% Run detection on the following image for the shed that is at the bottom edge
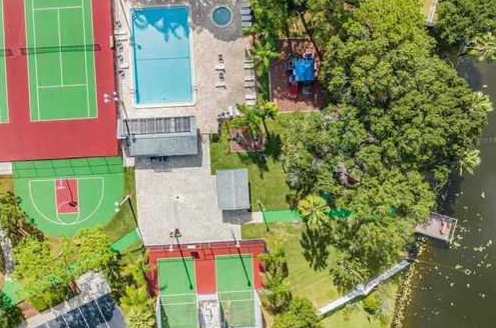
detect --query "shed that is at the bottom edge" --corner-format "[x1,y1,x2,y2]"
[201,299,220,328]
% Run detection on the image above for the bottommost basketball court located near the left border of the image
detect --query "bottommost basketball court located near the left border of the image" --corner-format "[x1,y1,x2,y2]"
[12,158,124,239]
